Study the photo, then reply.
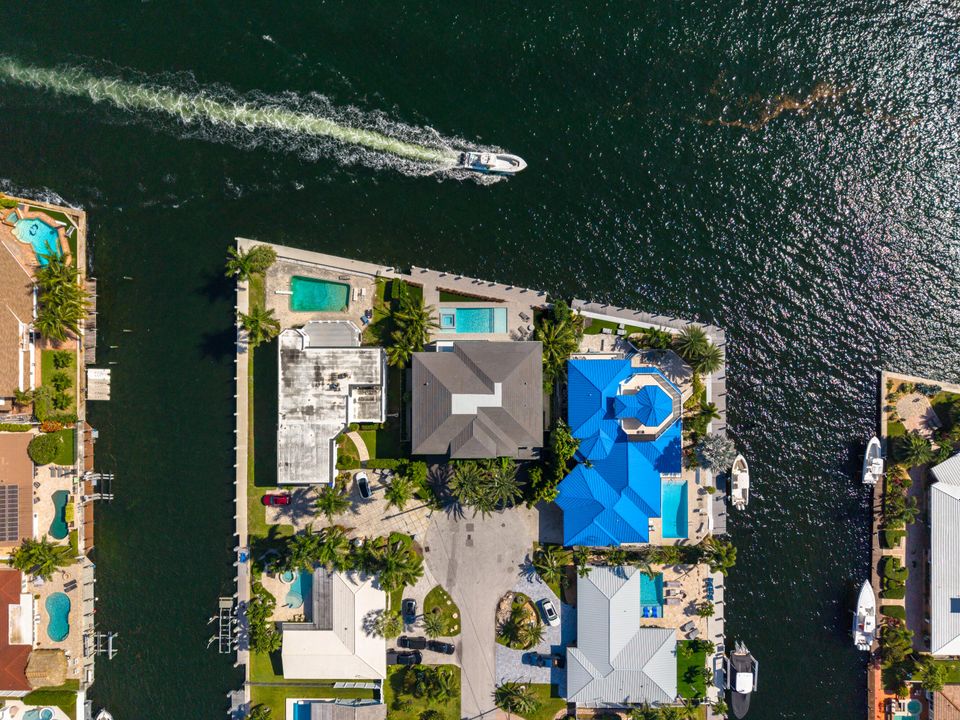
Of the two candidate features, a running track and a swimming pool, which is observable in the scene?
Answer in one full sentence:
I can see a swimming pool in this picture.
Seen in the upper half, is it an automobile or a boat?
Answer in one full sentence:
The feature located in the upper half is a boat.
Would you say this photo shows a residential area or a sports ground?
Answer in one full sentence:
This looks like a residential area.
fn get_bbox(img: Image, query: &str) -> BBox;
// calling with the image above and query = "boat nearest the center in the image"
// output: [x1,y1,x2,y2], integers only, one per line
[460,152,528,172]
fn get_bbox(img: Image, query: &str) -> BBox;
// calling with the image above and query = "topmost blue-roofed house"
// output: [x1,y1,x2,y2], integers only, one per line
[556,349,692,546]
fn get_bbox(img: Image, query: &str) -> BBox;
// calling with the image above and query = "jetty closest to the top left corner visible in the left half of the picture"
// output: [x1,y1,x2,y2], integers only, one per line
[86,279,101,364]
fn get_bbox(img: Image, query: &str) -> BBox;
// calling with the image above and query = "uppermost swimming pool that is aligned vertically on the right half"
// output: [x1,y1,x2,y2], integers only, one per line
[660,478,689,540]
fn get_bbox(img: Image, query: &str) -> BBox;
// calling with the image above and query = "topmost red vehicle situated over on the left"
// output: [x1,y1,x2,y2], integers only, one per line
[262,493,290,508]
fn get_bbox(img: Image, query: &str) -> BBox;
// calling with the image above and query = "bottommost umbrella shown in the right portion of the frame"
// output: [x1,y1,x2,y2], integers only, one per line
[678,562,694,578]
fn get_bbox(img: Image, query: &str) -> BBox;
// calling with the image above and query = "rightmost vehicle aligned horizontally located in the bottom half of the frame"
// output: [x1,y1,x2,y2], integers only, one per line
[524,652,562,668]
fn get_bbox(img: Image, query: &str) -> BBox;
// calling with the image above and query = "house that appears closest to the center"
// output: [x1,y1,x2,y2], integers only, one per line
[412,339,543,459]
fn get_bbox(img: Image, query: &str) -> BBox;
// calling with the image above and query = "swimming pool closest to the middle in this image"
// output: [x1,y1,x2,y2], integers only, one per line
[439,307,508,334]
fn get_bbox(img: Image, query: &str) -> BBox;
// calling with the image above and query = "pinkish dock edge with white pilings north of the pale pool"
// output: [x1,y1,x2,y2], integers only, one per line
[411,266,548,294]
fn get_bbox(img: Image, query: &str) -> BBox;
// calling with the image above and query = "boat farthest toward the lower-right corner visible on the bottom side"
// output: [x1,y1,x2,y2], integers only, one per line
[852,578,877,652]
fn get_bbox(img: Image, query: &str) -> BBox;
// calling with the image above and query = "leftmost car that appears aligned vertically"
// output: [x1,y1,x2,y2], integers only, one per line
[354,470,371,500]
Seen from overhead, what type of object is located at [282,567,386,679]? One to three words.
house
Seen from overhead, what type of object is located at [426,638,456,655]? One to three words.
car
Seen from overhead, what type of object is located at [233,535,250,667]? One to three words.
pier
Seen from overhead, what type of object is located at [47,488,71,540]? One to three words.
swimming pool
